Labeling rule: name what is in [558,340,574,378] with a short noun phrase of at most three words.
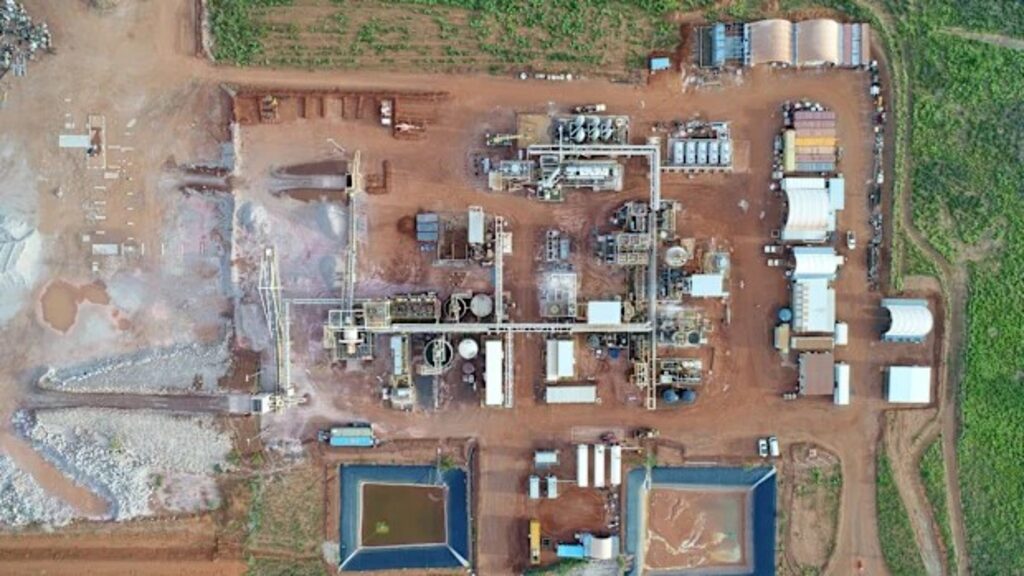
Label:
building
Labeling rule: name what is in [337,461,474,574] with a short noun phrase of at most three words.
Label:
pond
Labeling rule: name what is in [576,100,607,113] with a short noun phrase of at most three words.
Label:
vehicle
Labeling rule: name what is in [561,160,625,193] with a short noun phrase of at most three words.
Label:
building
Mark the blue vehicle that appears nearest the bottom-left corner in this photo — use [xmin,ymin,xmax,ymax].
[321,434,375,446]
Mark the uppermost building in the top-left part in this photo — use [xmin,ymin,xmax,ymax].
[60,136,94,148]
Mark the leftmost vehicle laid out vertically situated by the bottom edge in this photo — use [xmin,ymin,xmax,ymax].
[529,519,542,562]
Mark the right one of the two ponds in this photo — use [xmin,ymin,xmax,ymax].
[624,465,779,576]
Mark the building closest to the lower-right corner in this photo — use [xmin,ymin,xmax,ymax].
[882,366,930,403]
